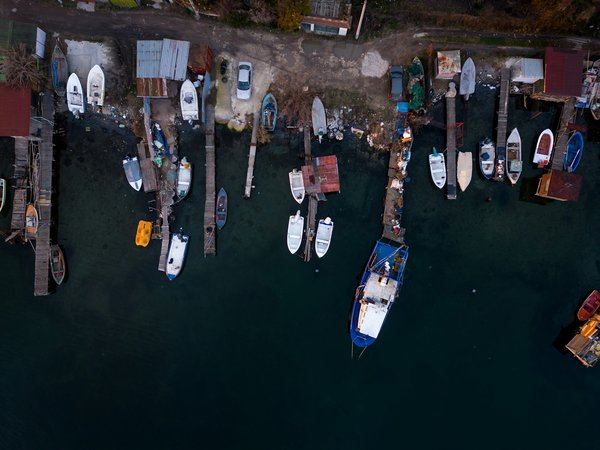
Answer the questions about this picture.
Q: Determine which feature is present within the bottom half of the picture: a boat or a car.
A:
boat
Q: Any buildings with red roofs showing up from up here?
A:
Yes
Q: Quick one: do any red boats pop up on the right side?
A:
Yes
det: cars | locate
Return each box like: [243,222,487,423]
[234,62,251,100]
[388,66,405,100]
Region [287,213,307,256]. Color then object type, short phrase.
white boat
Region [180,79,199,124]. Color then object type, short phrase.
white boat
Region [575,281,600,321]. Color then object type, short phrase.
red boat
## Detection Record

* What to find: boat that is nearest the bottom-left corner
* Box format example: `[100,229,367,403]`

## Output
[49,244,65,286]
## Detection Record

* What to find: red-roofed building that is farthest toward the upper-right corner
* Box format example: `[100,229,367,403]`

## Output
[543,47,583,97]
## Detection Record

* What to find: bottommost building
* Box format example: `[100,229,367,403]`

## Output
[527,169,582,203]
